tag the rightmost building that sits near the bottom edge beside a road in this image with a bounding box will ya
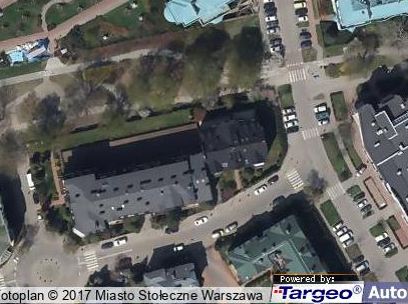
[225,216,331,304]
